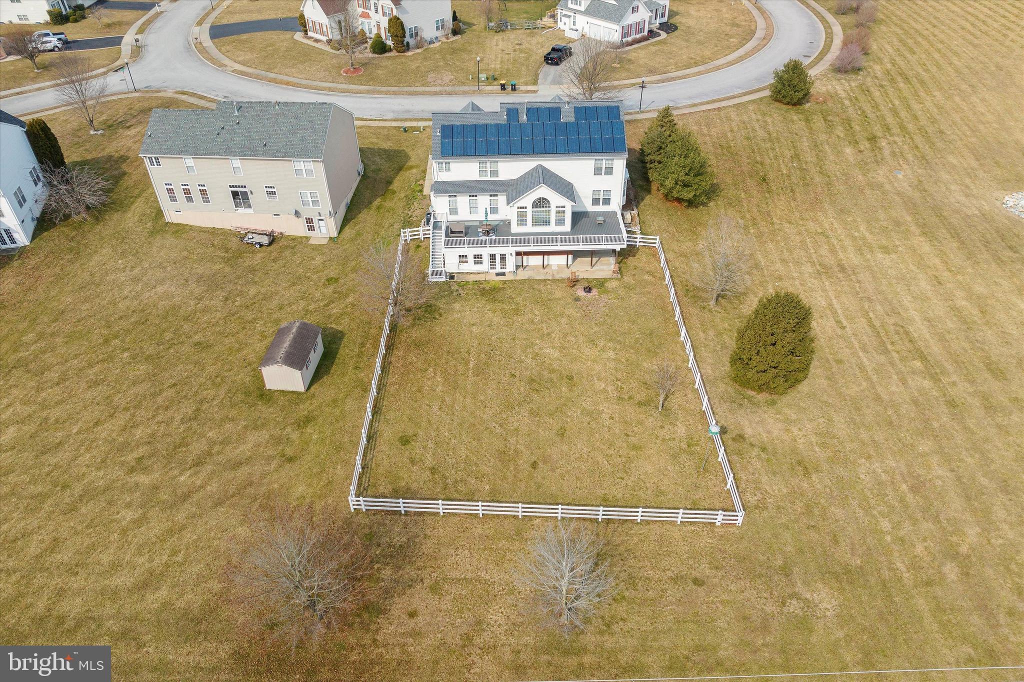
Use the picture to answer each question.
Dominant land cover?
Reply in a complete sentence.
Most of the picture is covered by grass.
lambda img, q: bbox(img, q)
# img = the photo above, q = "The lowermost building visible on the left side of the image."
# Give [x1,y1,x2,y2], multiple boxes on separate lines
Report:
[257,320,326,391]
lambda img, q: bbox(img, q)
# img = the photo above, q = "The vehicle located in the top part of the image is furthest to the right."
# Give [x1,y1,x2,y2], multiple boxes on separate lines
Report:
[548,43,575,61]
